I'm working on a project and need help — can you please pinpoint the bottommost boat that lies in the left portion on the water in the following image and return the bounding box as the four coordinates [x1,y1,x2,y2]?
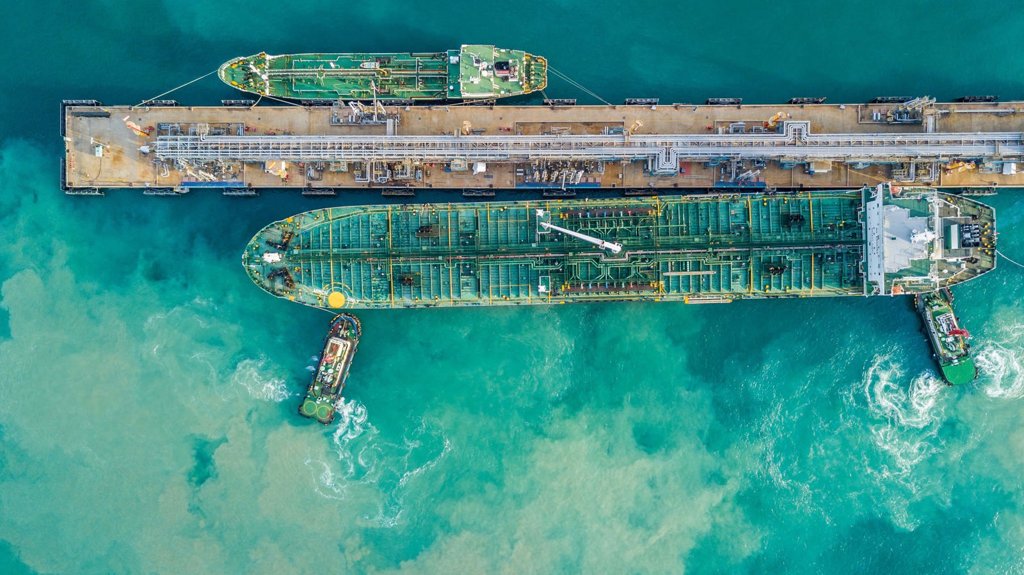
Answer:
[298,312,362,425]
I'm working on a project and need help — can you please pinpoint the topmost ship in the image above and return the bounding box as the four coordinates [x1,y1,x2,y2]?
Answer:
[216,43,547,102]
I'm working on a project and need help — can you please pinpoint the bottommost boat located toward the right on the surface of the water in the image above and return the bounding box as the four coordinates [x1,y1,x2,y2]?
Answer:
[911,288,979,387]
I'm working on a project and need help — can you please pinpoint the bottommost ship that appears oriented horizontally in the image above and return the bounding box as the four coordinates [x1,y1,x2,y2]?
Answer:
[241,184,1007,309]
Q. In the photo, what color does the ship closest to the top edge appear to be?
green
